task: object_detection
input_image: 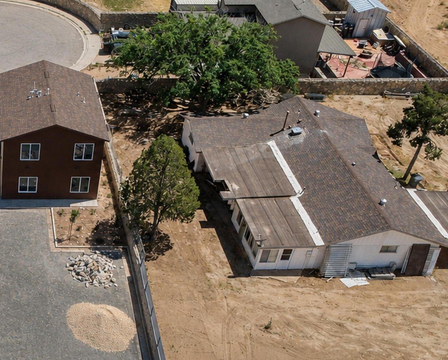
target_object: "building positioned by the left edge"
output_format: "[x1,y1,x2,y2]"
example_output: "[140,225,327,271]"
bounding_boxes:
[0,59,109,199]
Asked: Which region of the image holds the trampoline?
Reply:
top right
